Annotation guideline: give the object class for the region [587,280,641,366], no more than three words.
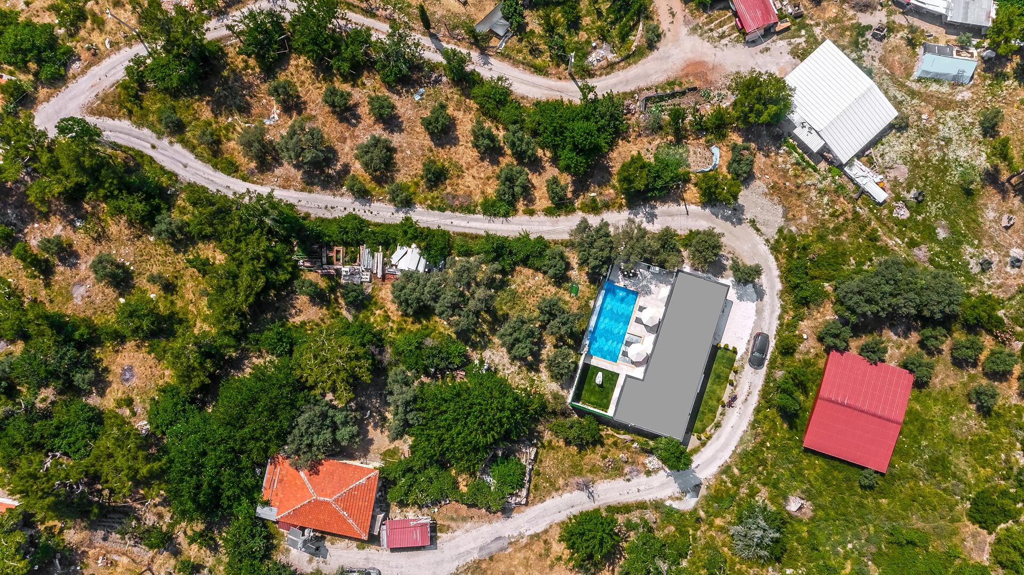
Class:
swimming pool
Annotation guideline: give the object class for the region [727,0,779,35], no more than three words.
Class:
shed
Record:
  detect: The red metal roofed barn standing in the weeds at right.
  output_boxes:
[802,351,912,473]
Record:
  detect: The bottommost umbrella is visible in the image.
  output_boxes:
[628,343,647,362]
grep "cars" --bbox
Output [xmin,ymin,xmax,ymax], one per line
[747,332,769,369]
[345,566,382,575]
